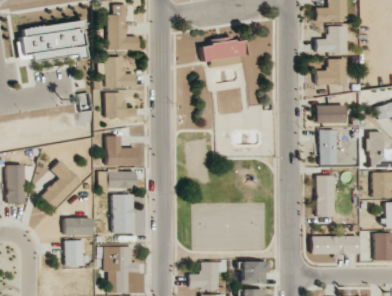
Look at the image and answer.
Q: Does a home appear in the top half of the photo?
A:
Yes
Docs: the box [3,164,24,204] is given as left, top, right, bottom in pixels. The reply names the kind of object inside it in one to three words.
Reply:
house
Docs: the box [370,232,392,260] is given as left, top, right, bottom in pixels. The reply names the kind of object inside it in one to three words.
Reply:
house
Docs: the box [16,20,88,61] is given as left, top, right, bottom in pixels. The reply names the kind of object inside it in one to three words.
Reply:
building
